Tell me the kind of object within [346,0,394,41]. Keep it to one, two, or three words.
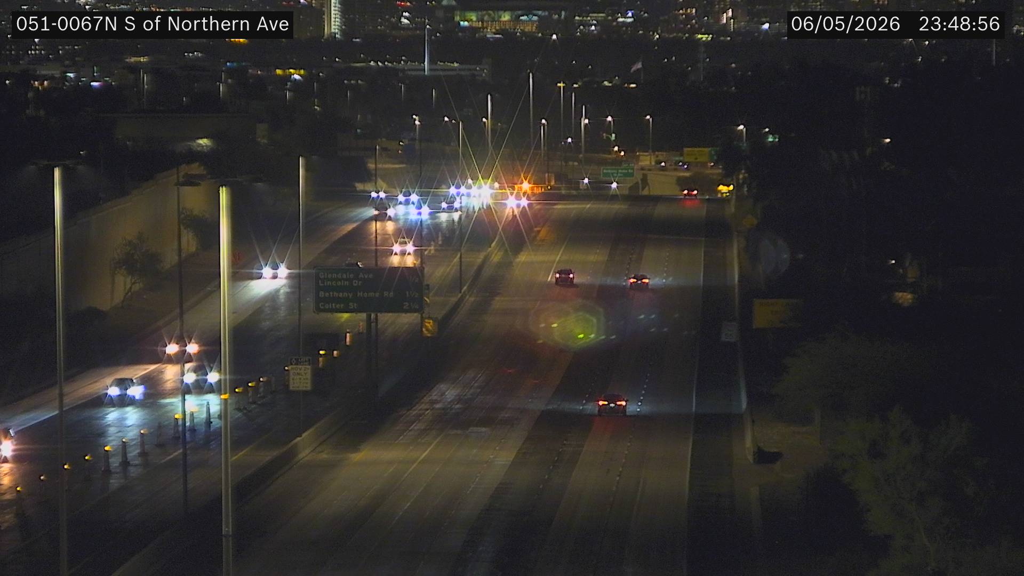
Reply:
building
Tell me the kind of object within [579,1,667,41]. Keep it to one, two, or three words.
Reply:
building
